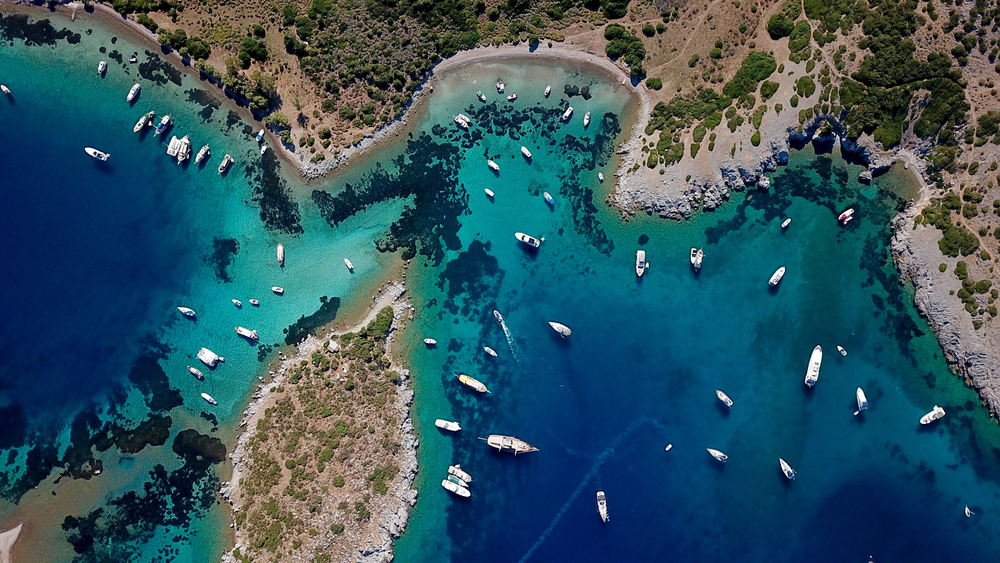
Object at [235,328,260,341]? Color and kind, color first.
white boat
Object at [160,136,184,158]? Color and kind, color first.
white boat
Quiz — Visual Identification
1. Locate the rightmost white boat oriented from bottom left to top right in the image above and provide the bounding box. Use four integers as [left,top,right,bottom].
[918,404,944,423]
